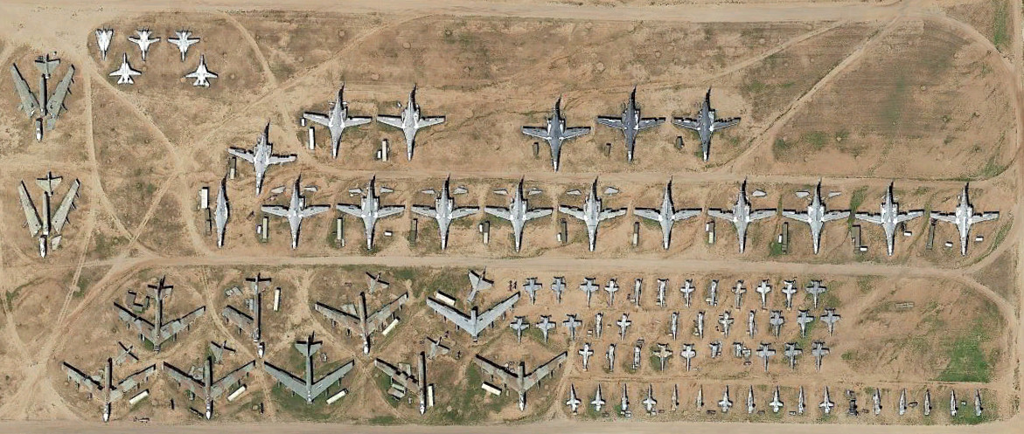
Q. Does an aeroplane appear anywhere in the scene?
Yes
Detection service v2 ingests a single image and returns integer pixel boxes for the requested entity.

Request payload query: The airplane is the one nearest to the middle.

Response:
[485,182,553,252]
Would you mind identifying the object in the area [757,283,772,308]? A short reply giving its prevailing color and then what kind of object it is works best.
white airplane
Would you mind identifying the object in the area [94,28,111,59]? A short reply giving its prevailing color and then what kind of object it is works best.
white airplane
